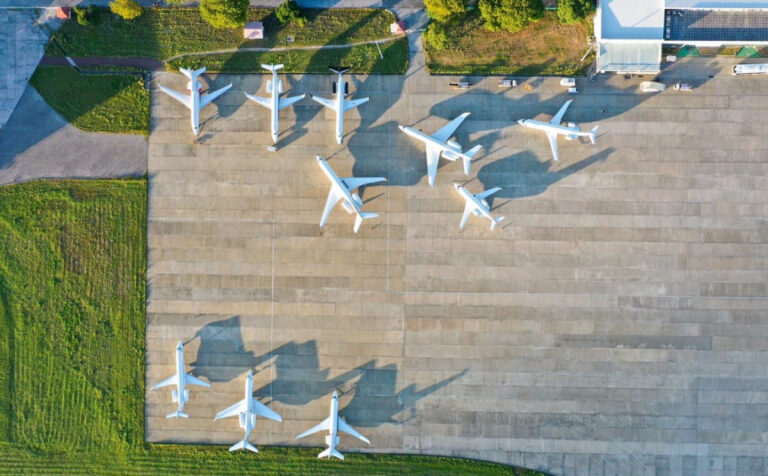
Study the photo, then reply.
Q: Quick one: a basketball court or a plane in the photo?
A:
plane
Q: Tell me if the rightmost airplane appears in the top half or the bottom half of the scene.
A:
top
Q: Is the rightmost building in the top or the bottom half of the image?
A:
top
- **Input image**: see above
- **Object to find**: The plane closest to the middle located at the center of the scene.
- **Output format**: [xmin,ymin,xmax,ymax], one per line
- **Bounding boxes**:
[317,156,386,233]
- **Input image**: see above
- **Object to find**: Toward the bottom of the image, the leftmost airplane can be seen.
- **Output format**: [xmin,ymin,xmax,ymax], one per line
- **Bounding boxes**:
[151,341,210,418]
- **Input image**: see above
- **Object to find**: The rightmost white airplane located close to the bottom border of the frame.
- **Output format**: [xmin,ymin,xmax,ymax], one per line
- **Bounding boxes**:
[296,391,370,457]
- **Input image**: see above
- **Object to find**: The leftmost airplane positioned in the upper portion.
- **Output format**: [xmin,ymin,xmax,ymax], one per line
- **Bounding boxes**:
[157,67,230,134]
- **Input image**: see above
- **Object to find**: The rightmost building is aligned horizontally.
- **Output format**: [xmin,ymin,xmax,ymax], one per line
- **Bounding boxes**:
[662,0,768,46]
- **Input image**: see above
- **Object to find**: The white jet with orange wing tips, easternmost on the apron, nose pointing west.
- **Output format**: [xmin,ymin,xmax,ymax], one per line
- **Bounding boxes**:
[518,99,598,161]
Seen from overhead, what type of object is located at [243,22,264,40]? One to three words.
shed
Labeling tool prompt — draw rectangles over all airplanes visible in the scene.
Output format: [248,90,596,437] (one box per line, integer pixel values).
[213,370,280,454]
[157,67,230,134]
[518,99,598,161]
[399,110,483,187]
[244,65,304,143]
[317,156,386,233]
[151,341,210,418]
[310,67,369,143]
[454,184,506,231]
[296,391,370,457]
